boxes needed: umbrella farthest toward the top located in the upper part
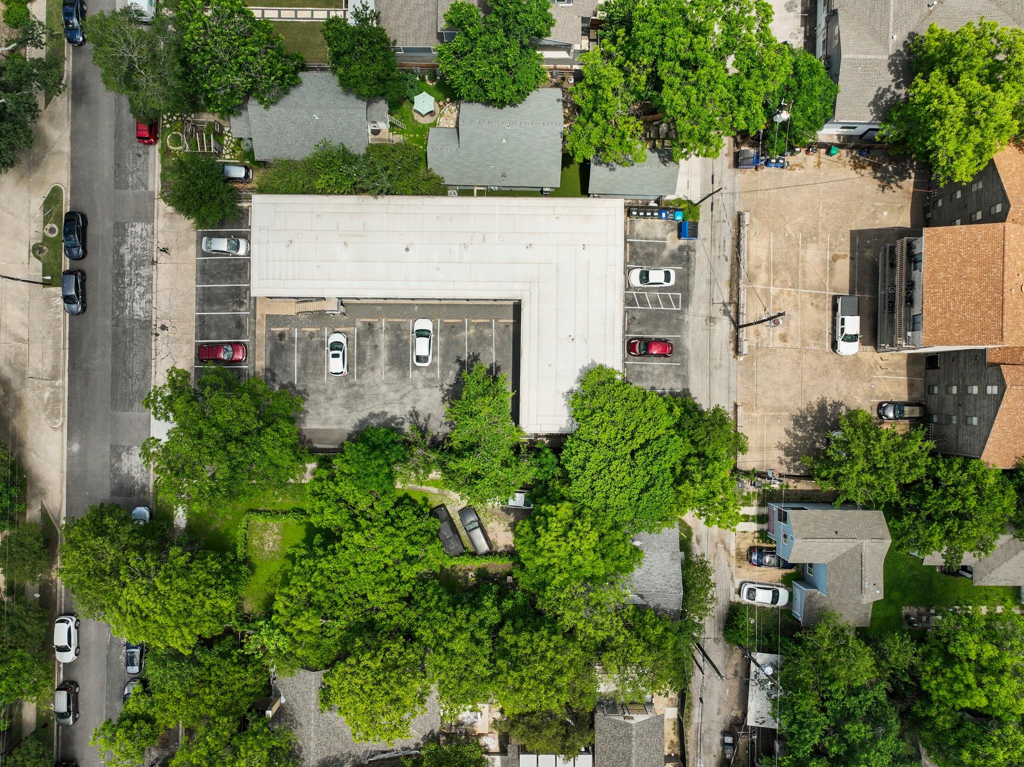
[415,94,435,117]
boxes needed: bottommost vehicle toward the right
[739,583,788,608]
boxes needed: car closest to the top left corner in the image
[61,0,88,46]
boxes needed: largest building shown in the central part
[251,195,625,434]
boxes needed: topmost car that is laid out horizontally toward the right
[626,266,674,289]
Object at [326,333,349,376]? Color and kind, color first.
white car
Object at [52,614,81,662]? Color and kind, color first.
white car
